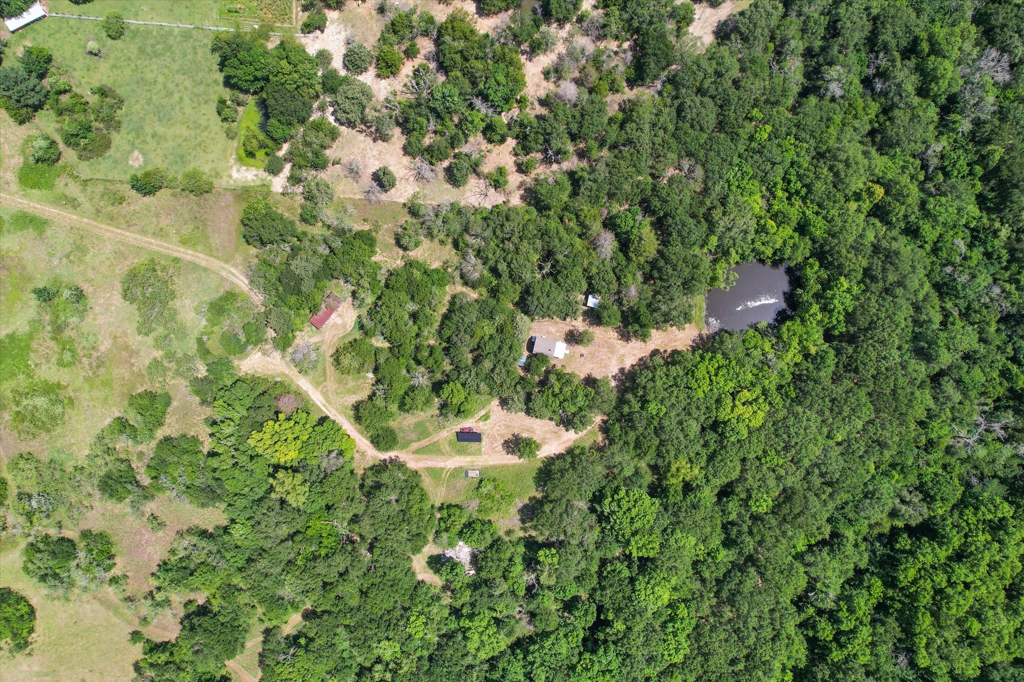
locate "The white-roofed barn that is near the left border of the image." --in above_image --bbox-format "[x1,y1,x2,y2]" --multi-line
[4,1,49,35]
